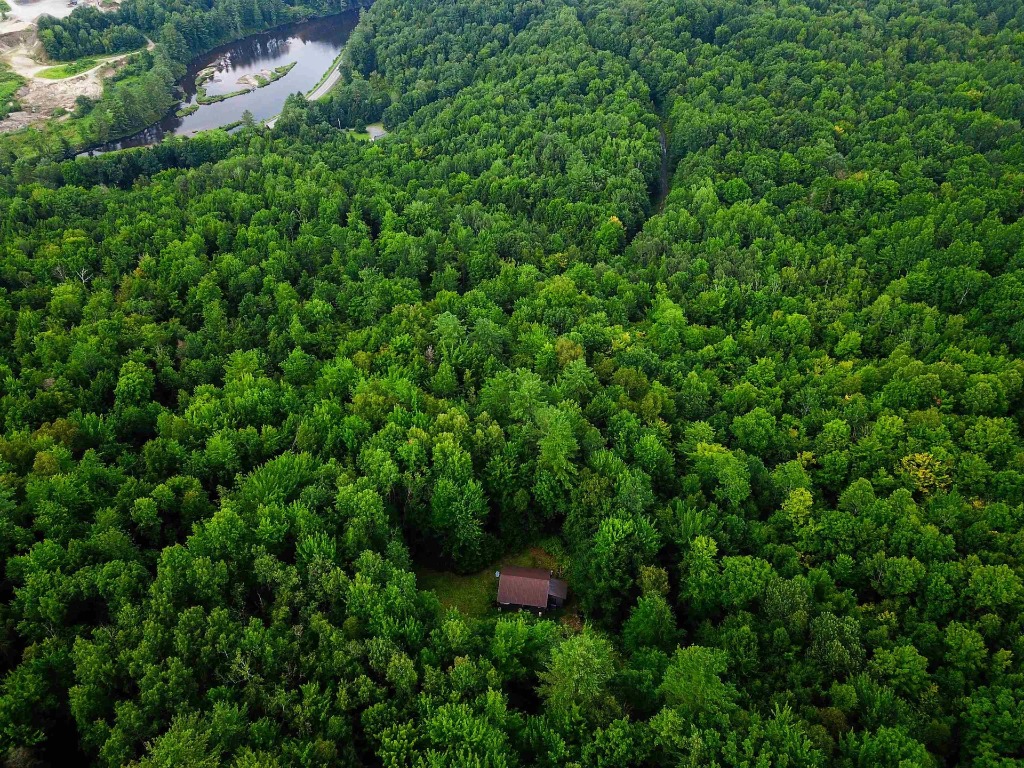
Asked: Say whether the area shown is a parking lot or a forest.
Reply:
forest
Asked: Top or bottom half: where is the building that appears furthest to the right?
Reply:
bottom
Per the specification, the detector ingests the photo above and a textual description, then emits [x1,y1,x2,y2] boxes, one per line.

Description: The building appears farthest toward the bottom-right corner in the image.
[496,566,568,613]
